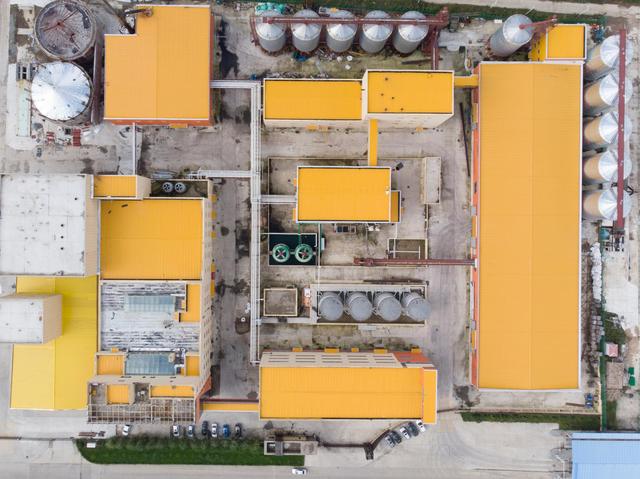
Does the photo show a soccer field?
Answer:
No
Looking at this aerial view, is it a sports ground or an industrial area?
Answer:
industrial area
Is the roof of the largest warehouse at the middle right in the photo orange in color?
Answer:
Yes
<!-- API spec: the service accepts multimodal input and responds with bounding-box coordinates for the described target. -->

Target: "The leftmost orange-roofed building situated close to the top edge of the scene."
[104,5,216,127]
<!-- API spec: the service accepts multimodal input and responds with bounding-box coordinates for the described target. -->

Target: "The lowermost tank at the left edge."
[31,61,94,126]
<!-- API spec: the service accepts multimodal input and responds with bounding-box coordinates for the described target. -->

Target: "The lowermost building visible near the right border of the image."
[570,433,640,479]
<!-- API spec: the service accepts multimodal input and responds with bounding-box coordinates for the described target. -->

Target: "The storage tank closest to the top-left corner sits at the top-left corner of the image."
[34,0,98,61]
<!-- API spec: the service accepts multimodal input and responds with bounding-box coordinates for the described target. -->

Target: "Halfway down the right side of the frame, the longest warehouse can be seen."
[471,59,586,394]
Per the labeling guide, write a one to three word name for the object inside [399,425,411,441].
vehicle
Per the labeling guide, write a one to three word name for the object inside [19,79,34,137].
shed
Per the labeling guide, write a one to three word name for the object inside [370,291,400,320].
storage tank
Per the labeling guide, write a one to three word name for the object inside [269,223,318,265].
cooling tower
